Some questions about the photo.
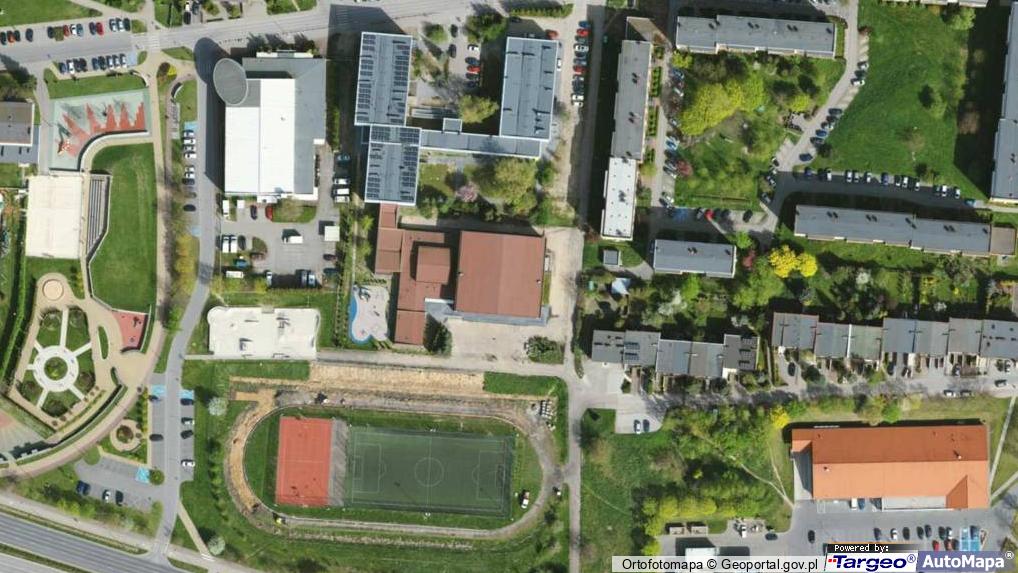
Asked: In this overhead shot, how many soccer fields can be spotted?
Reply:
one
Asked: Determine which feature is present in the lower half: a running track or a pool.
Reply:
running track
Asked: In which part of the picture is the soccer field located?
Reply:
bottom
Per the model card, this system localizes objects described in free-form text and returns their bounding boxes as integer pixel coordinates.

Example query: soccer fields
[344,425,516,518]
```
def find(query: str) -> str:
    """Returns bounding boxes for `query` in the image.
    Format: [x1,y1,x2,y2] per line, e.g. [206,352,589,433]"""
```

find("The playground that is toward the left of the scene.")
[348,284,390,344]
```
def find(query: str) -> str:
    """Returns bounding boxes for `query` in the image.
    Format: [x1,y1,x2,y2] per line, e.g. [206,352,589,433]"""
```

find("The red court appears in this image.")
[276,417,331,505]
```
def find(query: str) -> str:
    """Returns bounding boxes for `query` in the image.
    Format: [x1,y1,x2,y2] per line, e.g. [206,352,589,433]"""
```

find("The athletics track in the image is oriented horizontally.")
[227,391,569,547]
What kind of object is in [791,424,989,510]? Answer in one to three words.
building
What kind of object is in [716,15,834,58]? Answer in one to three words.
building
